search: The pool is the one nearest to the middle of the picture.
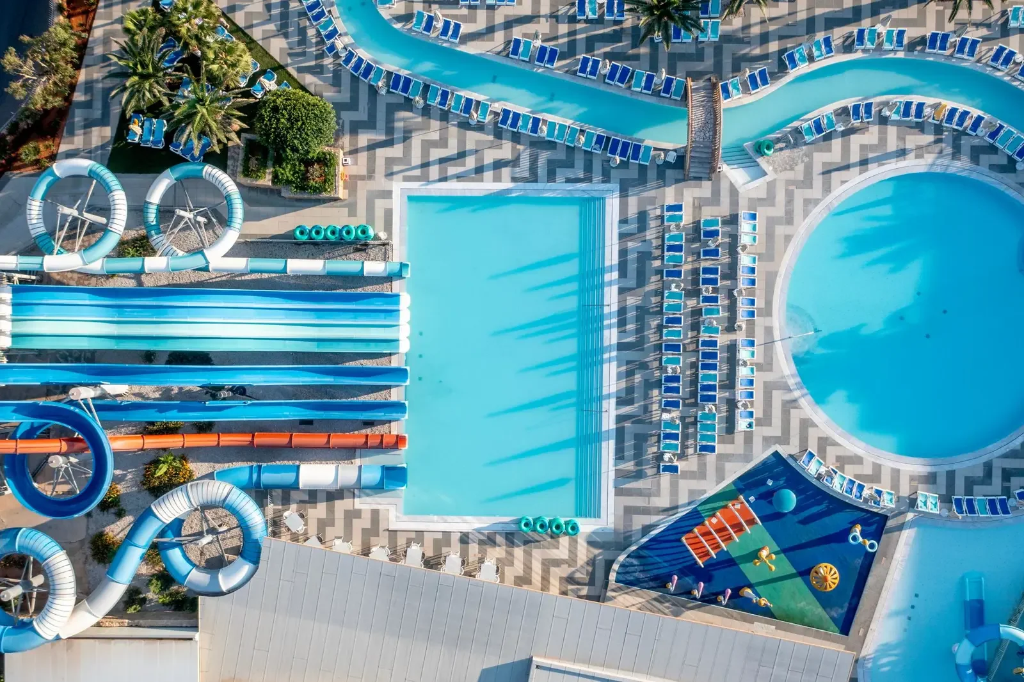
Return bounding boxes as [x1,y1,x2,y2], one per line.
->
[403,196,605,516]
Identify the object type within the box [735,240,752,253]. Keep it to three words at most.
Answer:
umbrella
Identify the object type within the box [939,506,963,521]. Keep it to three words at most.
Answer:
umbrella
